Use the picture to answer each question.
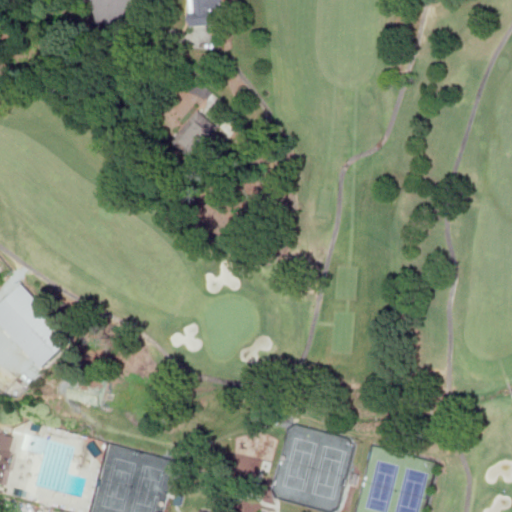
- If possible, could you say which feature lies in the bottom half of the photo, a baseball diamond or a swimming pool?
swimming pool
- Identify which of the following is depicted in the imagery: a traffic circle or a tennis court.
tennis court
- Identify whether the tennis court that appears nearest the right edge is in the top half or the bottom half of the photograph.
bottom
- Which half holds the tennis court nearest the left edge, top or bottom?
bottom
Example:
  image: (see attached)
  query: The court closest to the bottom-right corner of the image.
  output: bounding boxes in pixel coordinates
[392,454,435,512]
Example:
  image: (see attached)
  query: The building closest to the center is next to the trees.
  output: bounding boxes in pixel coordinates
[174,110,214,154]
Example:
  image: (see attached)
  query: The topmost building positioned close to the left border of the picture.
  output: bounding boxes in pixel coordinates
[0,280,58,385]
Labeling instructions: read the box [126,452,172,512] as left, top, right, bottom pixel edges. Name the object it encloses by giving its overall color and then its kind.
gray tennis court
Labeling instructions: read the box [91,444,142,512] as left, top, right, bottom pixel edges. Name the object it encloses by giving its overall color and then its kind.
gray tennis court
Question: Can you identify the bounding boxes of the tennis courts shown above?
[272,426,324,506]
[357,446,406,512]
[126,452,172,512]
[91,444,142,512]
[306,432,353,510]
[392,454,435,512]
